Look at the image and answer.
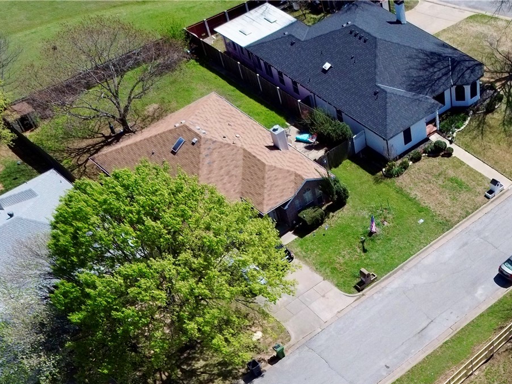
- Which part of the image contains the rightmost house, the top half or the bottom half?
top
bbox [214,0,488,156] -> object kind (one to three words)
house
